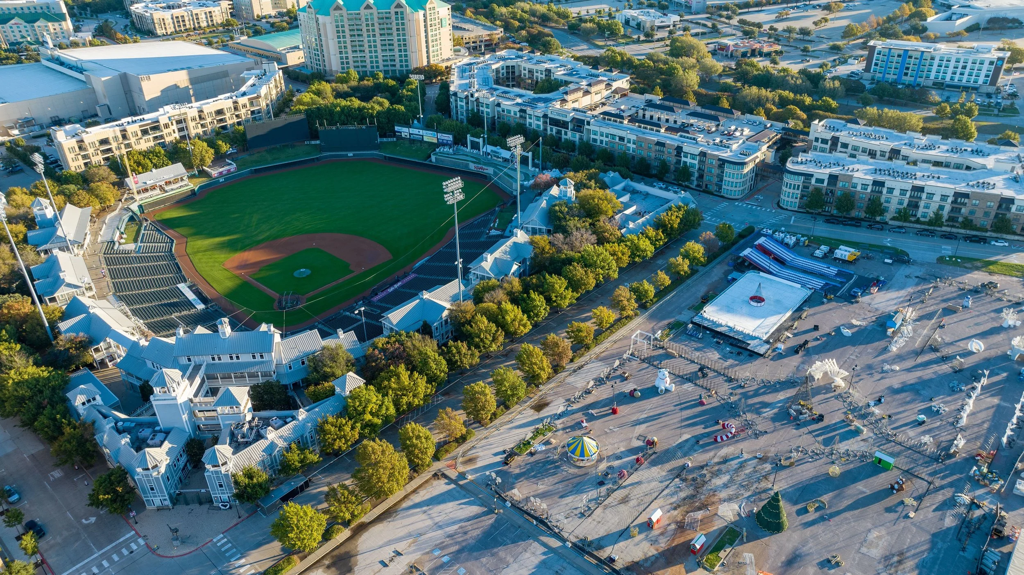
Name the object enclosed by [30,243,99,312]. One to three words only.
building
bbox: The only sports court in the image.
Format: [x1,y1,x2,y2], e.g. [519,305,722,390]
[690,268,815,352]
